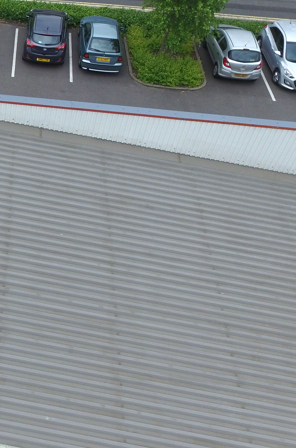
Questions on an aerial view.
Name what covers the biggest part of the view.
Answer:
buildings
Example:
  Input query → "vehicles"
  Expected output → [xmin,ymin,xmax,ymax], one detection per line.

[262,21,296,89]
[79,19,125,73]
[24,12,70,66]
[207,29,263,82]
